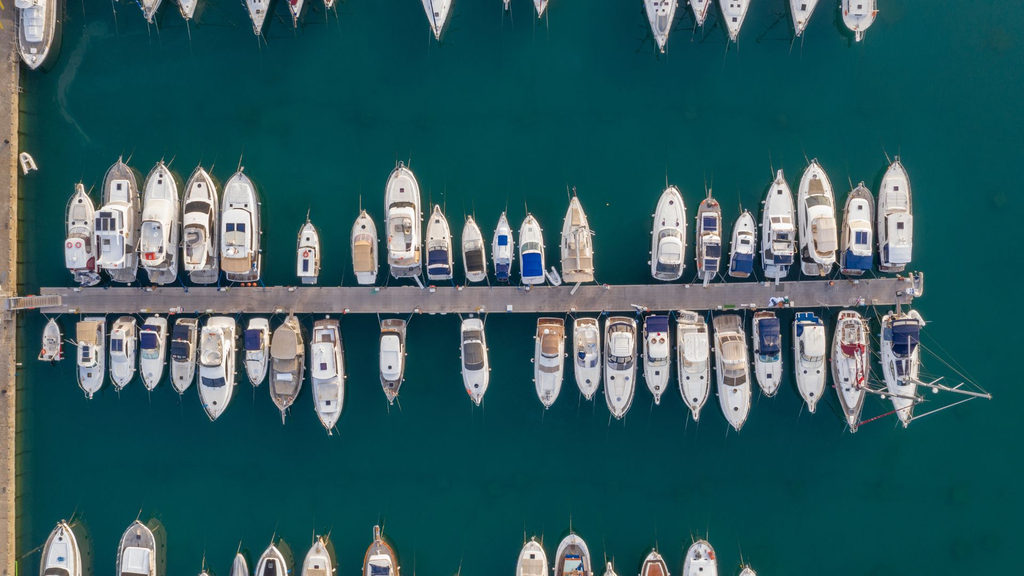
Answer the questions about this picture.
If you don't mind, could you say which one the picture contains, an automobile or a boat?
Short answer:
boat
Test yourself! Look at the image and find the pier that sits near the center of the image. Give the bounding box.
[39,276,913,314]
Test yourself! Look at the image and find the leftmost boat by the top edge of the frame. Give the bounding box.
[6,0,67,69]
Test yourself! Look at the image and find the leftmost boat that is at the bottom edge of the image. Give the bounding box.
[38,521,88,576]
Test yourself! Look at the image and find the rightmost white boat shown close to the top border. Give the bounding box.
[839,0,879,43]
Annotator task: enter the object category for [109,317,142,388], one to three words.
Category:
boat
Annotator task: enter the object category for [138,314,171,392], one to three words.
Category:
boat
